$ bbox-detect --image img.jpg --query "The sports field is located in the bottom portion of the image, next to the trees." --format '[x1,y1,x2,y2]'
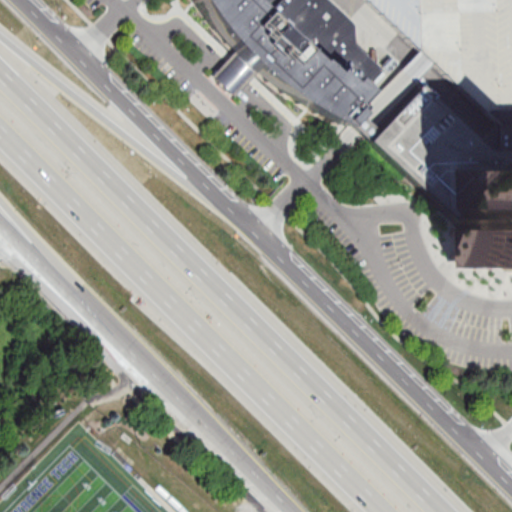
[0,424,167,512]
